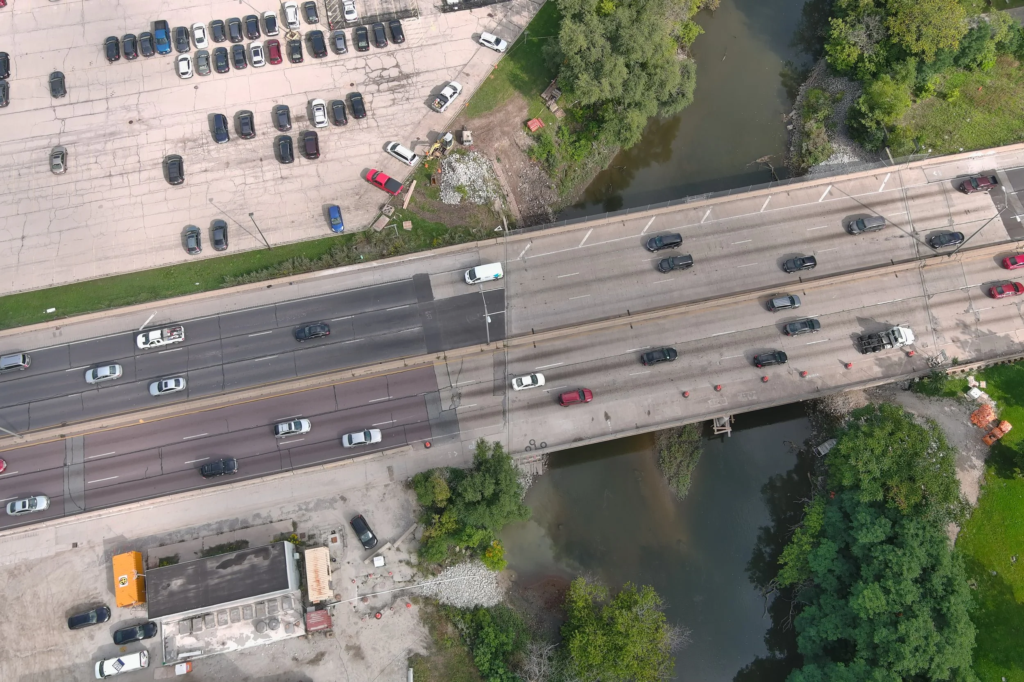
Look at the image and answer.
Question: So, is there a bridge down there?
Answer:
Yes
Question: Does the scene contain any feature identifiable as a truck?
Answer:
Yes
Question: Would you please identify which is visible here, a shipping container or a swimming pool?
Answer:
shipping container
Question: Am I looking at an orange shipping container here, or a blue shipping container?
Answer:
orange shipping container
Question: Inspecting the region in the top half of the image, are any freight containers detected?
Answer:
No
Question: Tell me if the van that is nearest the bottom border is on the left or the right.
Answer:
left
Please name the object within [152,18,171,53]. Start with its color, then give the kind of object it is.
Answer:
blue vehicle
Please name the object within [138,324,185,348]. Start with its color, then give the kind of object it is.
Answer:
white truck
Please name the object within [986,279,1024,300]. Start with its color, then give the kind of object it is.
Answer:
red car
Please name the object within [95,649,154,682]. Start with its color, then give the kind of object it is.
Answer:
white van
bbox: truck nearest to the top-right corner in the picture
[957,174,1002,195]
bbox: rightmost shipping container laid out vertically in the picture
[305,547,334,603]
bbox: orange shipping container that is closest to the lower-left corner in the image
[113,551,147,609]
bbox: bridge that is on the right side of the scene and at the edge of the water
[501,165,946,463]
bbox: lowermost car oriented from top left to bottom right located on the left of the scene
[347,512,379,551]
